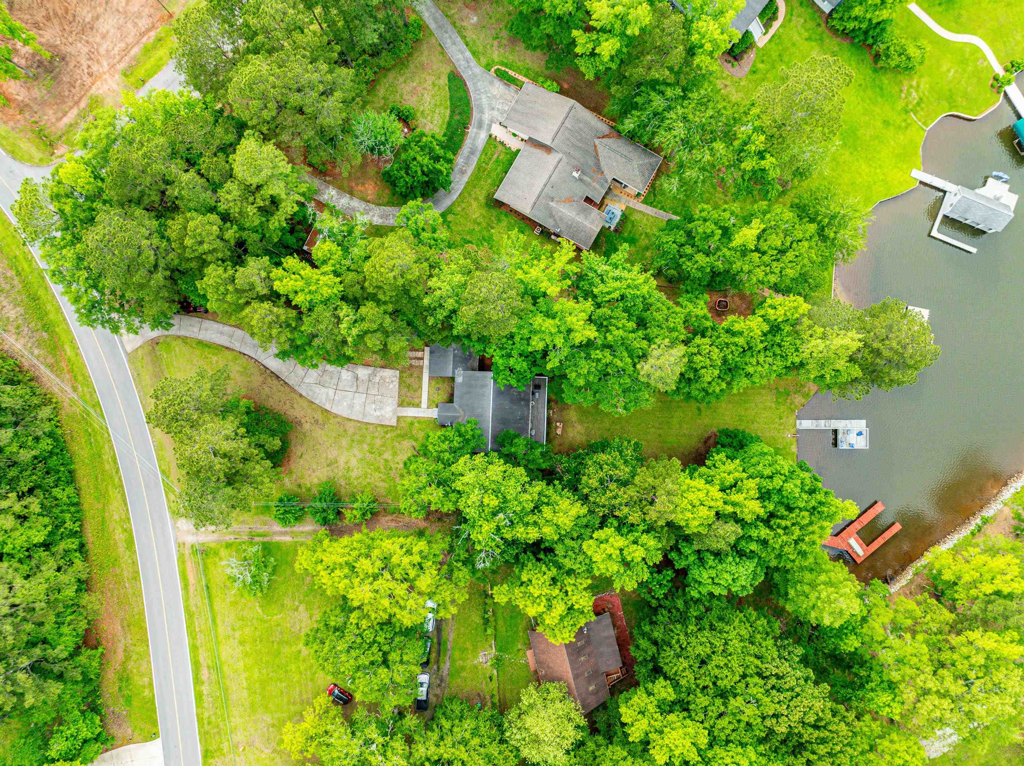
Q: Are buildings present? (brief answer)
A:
Yes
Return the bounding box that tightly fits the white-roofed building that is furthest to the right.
[929,184,1014,236]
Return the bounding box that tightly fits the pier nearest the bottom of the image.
[822,501,903,564]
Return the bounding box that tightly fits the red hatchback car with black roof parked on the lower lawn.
[325,680,355,707]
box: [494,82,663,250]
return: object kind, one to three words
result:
house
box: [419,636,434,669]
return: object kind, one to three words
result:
car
